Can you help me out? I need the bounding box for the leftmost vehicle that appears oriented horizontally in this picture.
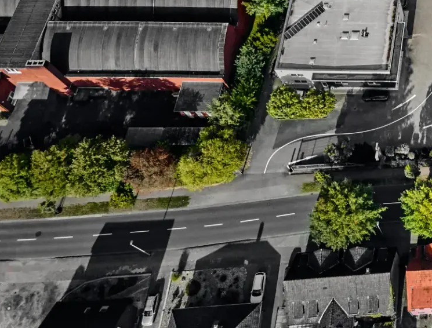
[361,89,391,102]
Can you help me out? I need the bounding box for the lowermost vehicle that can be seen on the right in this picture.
[250,270,269,291]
